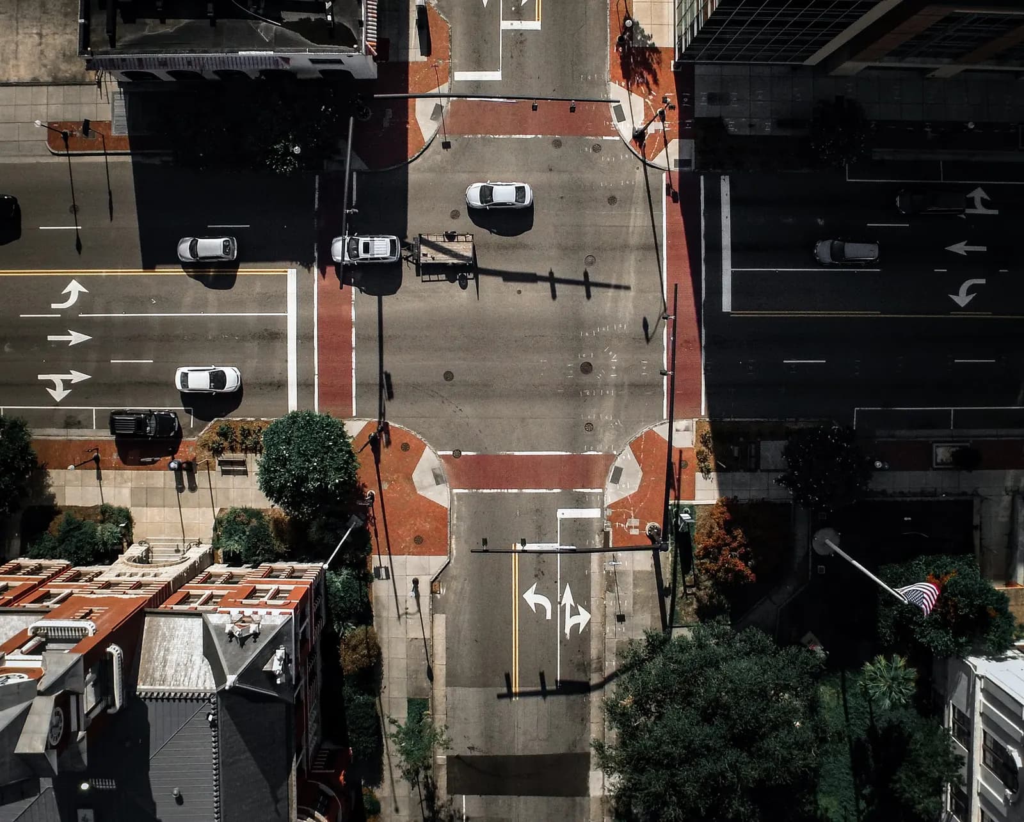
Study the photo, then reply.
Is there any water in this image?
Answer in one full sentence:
No, water can't be seen anywhere here.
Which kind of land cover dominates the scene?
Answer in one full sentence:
The scene is dominated by paved ground.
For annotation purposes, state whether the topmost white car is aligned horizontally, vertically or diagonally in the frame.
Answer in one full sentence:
In this picture, the topmost white car is oriented horizontally.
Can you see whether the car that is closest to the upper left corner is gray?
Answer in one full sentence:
No, from above the car that is closest to the upper left corner looks black.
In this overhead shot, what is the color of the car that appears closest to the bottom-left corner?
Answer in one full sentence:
The car that appears closest to the bottom-left corner looks black in the image.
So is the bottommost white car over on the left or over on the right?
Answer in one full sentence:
The bottommost white car sits on the left side.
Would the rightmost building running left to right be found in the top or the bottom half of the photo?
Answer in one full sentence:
The rightmost building running left to right is in the top half of the image.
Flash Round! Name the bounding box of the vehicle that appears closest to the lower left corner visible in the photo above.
[108,408,179,440]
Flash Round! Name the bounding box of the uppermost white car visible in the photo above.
[466,179,532,211]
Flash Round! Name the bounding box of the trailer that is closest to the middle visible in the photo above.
[401,239,475,275]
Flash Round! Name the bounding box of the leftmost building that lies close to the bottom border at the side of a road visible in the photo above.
[0,525,361,822]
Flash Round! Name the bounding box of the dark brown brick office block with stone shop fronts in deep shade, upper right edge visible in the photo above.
[831,0,1024,68]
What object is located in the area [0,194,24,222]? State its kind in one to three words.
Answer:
car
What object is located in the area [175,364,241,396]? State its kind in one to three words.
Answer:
car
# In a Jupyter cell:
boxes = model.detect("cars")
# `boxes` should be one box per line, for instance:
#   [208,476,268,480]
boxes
[332,232,401,266]
[108,408,179,440]
[0,194,24,222]
[813,235,881,268]
[178,233,238,265]
[466,179,532,211]
[175,364,241,396]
